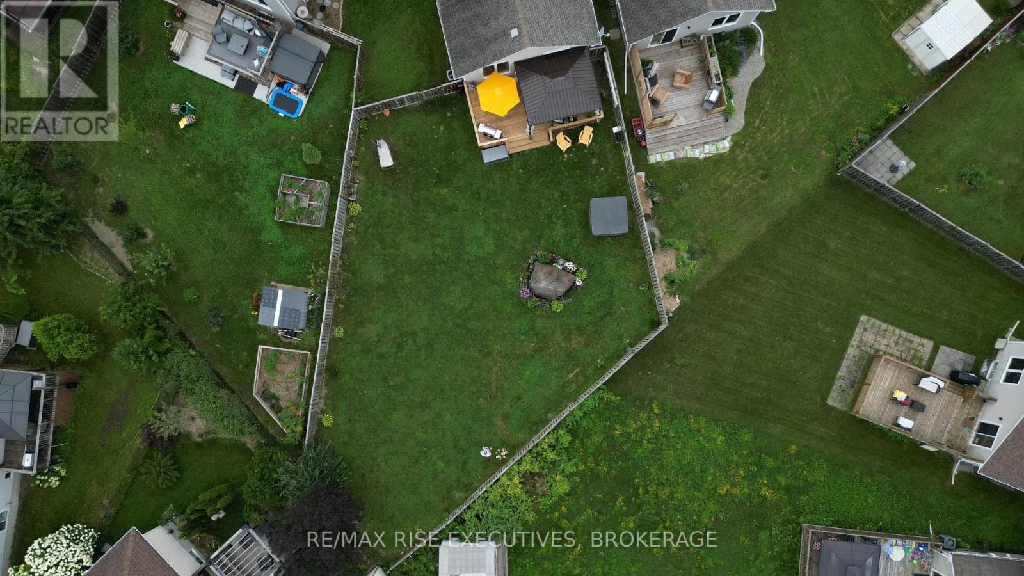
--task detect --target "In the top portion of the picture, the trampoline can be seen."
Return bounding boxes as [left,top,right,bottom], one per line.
[269,89,303,119]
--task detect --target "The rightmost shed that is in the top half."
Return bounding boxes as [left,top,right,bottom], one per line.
[904,0,1000,70]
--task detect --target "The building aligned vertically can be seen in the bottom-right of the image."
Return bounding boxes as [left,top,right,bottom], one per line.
[959,348,1024,494]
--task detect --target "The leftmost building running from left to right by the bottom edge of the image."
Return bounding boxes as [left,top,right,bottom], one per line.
[83,525,204,576]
